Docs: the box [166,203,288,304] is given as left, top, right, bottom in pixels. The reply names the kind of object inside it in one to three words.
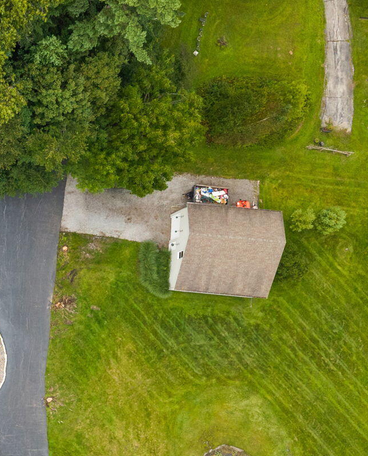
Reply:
barn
